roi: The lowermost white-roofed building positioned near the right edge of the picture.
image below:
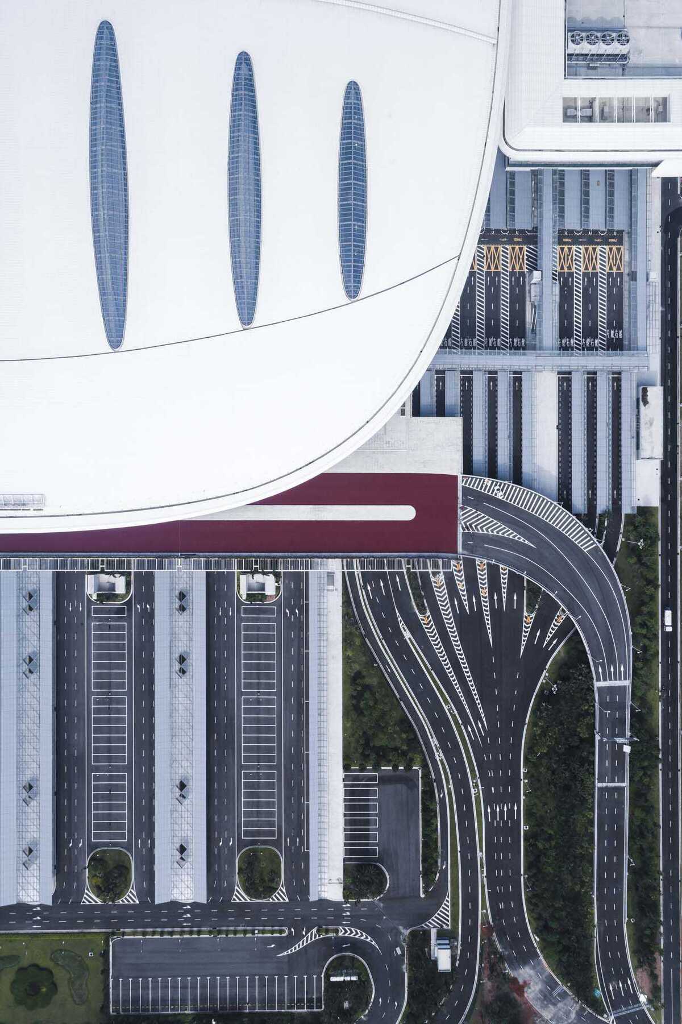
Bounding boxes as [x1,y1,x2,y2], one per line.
[637,387,664,460]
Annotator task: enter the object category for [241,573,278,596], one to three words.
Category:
building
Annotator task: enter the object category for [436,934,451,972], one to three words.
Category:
shed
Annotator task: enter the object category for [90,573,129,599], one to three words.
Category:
building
